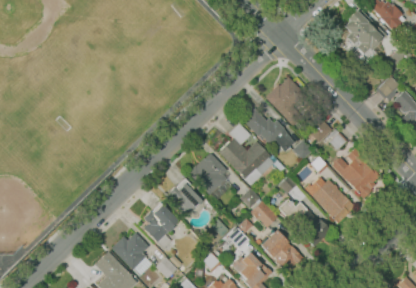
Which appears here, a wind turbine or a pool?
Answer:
pool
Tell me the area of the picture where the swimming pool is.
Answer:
bottom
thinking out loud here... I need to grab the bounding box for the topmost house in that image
[373,0,406,28]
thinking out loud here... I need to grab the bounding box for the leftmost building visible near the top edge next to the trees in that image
[346,10,386,52]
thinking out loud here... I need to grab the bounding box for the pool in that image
[185,198,218,234]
